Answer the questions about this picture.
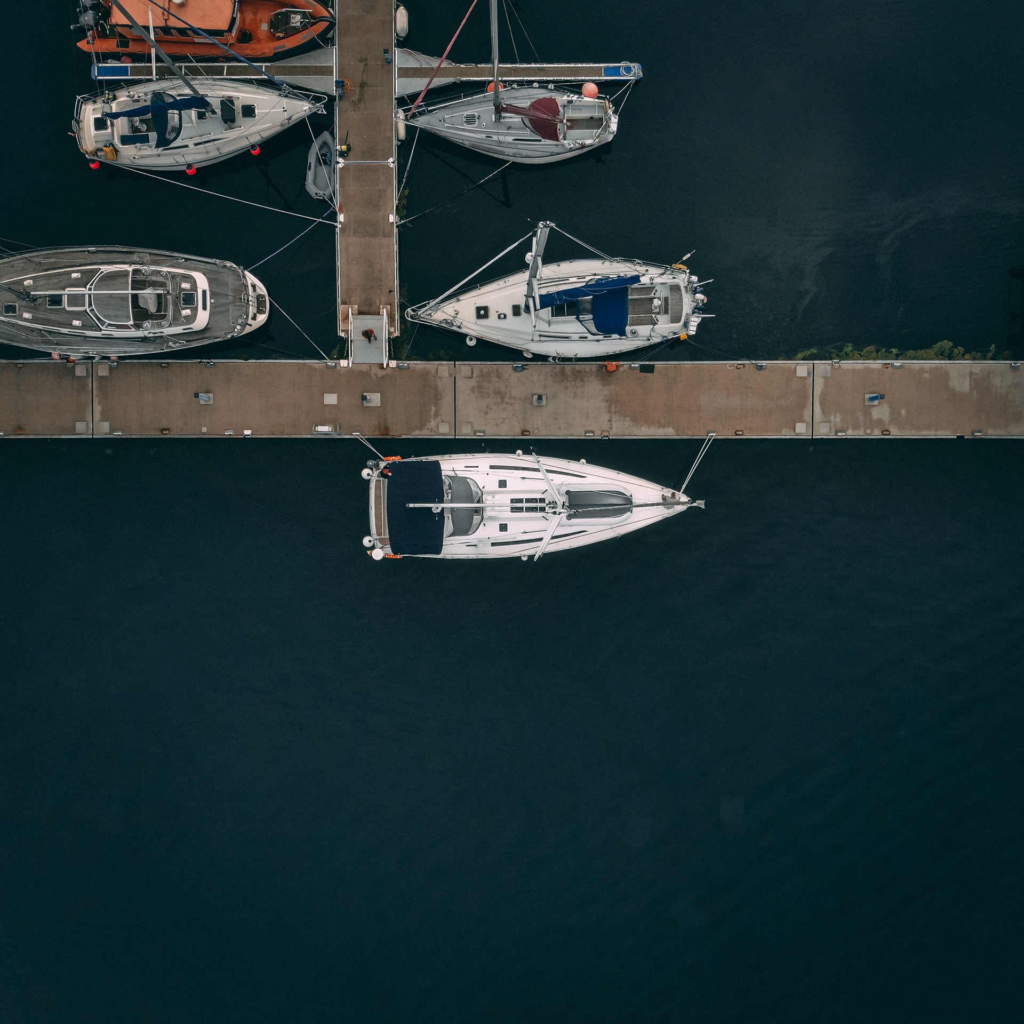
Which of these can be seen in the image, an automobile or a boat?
boat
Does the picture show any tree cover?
No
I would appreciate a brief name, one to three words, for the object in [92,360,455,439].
pier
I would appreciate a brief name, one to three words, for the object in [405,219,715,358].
boat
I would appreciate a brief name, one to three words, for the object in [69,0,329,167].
boat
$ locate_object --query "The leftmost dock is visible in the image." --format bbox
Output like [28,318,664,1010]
[0,361,95,439]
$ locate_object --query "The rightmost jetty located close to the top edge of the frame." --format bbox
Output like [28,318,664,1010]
[396,47,642,98]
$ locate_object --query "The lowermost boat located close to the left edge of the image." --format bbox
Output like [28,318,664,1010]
[0,243,270,357]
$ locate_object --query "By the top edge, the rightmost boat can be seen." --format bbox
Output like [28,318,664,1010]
[393,0,618,161]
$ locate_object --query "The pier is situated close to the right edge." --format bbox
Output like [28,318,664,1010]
[811,360,1024,439]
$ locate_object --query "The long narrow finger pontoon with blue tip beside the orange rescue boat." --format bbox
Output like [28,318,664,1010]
[92,46,336,97]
